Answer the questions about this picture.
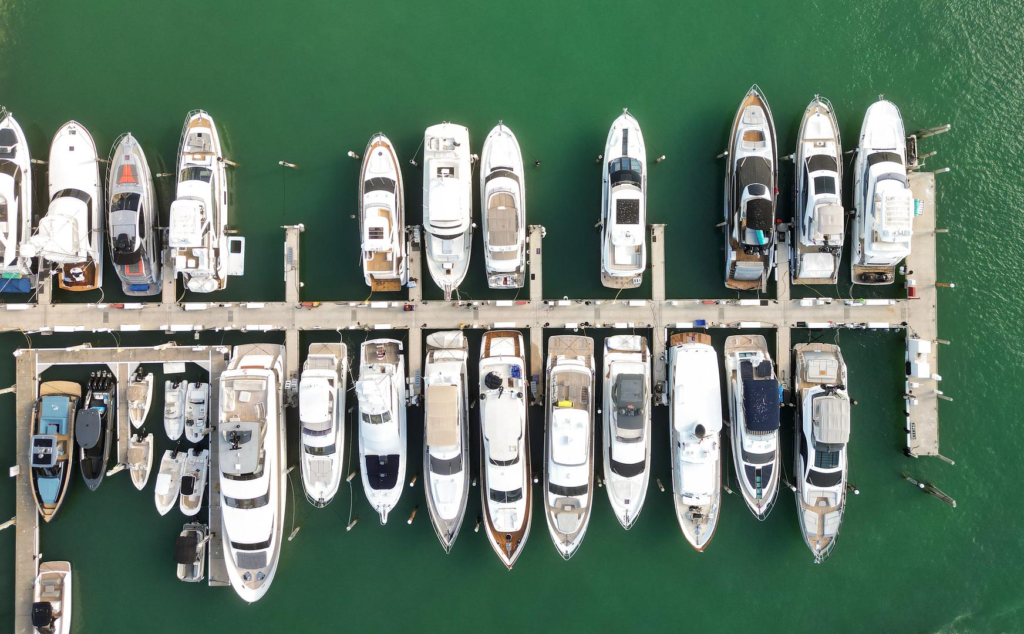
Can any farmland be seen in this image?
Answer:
No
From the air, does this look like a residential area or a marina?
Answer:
marina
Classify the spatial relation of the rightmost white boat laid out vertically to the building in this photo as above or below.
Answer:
above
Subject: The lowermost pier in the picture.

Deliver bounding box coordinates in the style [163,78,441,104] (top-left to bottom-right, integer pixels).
[14,340,233,634]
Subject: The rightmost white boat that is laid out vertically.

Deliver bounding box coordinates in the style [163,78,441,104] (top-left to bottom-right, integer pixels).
[842,93,913,305]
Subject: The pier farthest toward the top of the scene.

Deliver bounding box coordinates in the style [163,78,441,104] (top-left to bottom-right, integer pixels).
[0,171,939,457]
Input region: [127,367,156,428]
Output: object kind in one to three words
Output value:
boat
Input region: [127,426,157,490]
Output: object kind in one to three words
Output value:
boat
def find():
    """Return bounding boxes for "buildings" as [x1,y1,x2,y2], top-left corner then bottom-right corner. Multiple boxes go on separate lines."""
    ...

[903,340,930,378]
